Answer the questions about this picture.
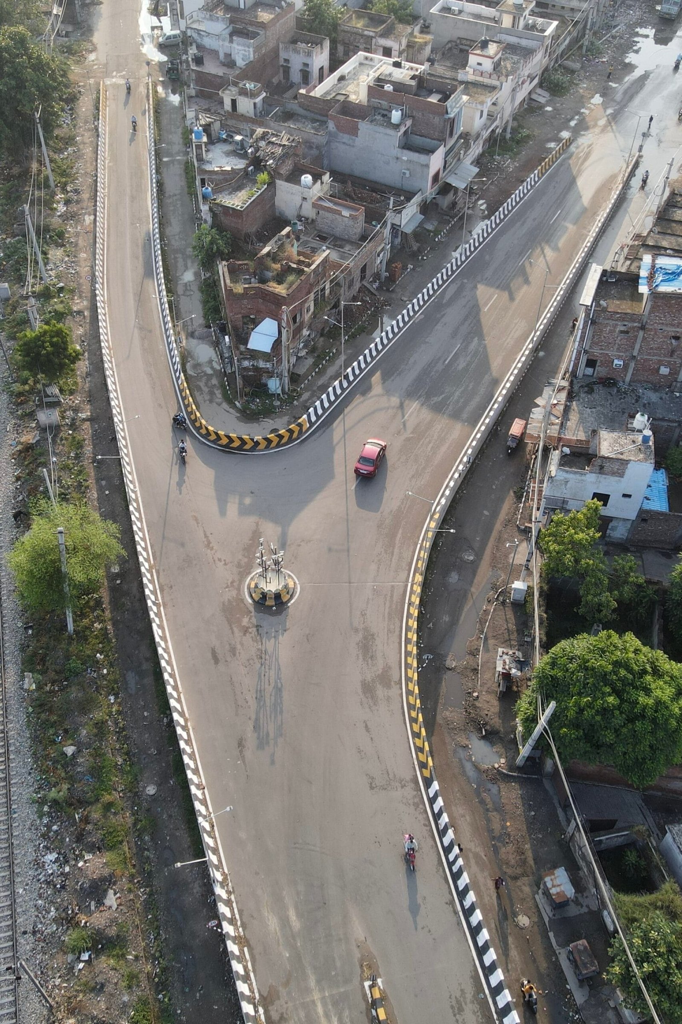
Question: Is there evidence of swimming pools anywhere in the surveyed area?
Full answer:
No, the scene contains no swimming pool.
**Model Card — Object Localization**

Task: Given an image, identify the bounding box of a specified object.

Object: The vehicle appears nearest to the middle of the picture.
[352,434,385,479]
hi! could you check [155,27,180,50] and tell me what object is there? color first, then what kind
gray vehicle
